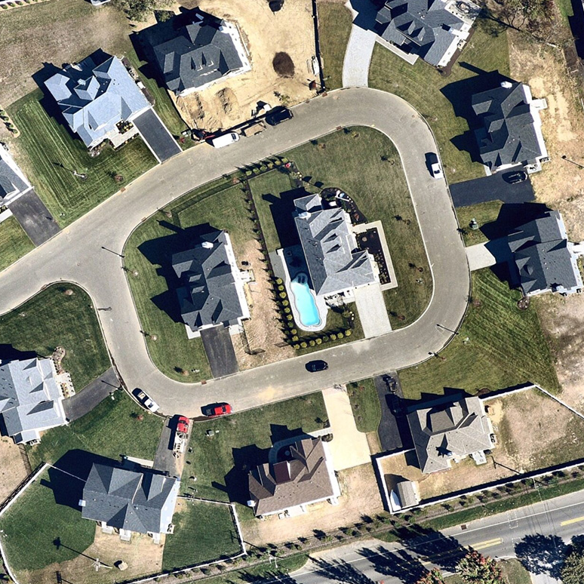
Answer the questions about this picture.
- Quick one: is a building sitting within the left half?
Yes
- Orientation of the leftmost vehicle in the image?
on a diagonal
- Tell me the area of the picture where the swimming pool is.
center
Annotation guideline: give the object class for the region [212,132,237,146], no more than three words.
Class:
vehicle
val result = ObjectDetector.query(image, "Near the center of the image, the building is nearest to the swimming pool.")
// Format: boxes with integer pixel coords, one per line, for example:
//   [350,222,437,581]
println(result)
[294,195,379,296]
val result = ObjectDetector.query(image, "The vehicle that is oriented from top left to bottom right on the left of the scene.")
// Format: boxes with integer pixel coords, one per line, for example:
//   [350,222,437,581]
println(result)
[137,388,157,409]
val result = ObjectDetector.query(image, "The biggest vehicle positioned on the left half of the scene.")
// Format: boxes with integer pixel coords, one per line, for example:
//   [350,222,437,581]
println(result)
[172,418,189,454]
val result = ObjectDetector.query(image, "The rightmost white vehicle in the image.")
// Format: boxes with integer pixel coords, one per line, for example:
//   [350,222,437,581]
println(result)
[428,153,442,177]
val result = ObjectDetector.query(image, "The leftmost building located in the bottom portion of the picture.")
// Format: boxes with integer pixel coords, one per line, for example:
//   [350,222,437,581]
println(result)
[0,349,68,445]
